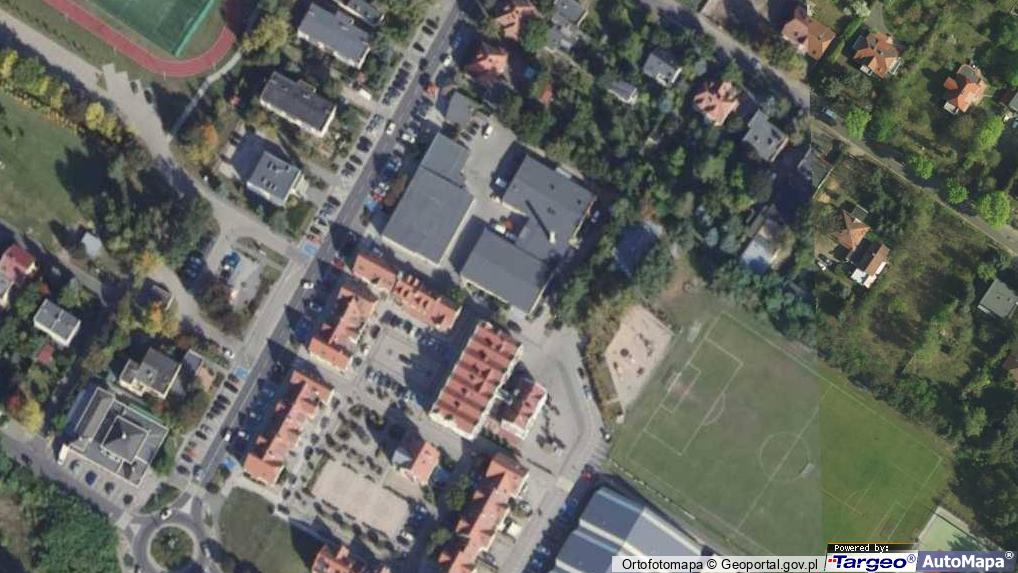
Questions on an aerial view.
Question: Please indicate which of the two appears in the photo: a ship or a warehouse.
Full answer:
The image shows a warehouse.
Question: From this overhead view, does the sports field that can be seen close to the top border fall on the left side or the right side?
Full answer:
The sports field that can be seen close to the top border is on the left side of the image.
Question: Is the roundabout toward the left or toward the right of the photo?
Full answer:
The roundabout appears in the left half of the scene.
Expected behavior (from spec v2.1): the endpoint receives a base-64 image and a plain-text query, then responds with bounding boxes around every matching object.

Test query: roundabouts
[131,498,211,573]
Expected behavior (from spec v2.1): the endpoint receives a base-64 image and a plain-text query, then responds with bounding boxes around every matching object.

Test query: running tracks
[44,0,258,78]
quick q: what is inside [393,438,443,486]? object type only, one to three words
building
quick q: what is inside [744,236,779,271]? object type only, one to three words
house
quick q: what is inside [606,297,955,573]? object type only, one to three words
soccer field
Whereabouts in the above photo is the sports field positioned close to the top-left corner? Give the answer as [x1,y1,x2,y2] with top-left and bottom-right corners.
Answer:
[81,0,213,55]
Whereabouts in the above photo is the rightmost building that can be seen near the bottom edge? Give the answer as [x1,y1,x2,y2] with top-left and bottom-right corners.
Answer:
[550,487,705,573]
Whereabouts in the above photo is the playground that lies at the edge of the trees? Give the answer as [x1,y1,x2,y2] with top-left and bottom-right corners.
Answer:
[605,305,673,407]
